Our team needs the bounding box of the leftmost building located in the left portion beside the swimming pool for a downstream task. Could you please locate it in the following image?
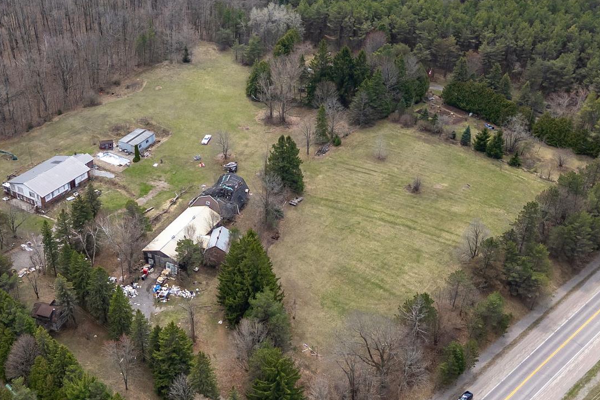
[2,154,96,209]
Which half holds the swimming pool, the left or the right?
left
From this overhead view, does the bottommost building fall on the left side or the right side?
left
